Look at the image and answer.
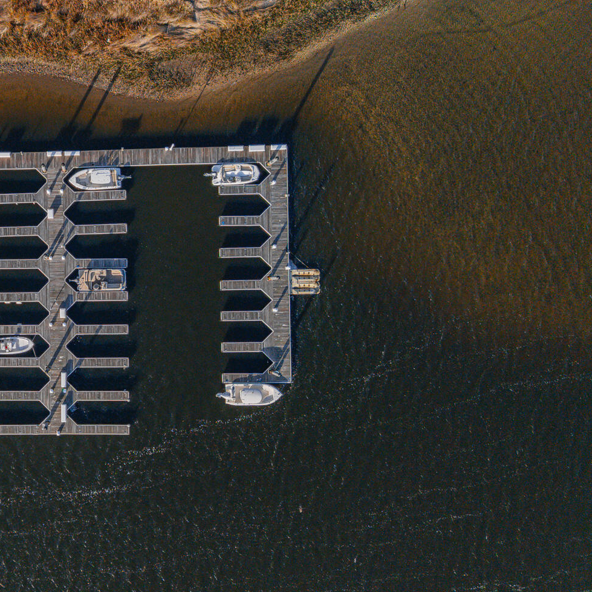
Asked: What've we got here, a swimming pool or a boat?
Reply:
boat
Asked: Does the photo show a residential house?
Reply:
No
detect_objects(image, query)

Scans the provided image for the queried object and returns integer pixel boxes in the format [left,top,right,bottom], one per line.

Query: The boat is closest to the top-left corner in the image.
[69,169,133,191]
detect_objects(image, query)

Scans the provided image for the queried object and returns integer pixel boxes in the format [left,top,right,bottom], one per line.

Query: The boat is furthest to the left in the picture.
[0,337,34,354]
